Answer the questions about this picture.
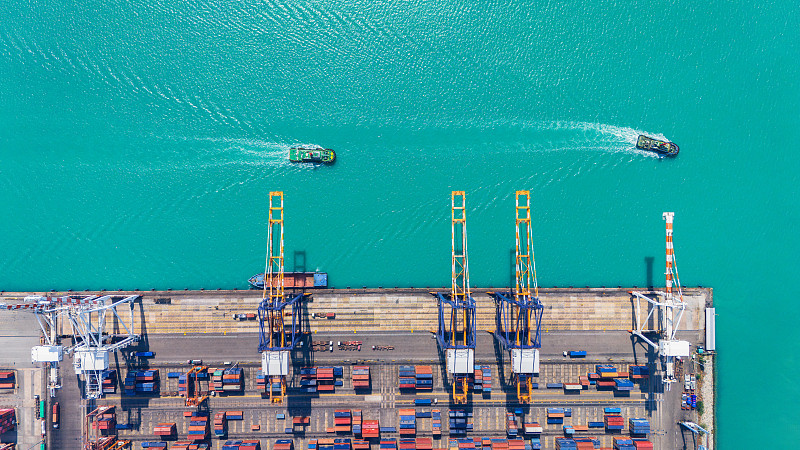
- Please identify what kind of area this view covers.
port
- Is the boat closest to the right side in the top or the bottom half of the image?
top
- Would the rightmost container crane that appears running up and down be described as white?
Yes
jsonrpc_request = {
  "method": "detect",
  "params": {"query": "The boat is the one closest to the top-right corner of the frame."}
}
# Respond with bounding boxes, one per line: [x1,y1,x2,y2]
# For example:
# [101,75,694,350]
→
[636,134,680,157]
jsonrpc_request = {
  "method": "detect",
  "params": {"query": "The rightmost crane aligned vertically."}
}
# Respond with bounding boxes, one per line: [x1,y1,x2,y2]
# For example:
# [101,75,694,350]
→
[623,211,689,391]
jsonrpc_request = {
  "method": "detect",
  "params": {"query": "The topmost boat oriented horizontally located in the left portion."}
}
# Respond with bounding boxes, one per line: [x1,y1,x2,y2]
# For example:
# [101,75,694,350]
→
[289,147,336,164]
